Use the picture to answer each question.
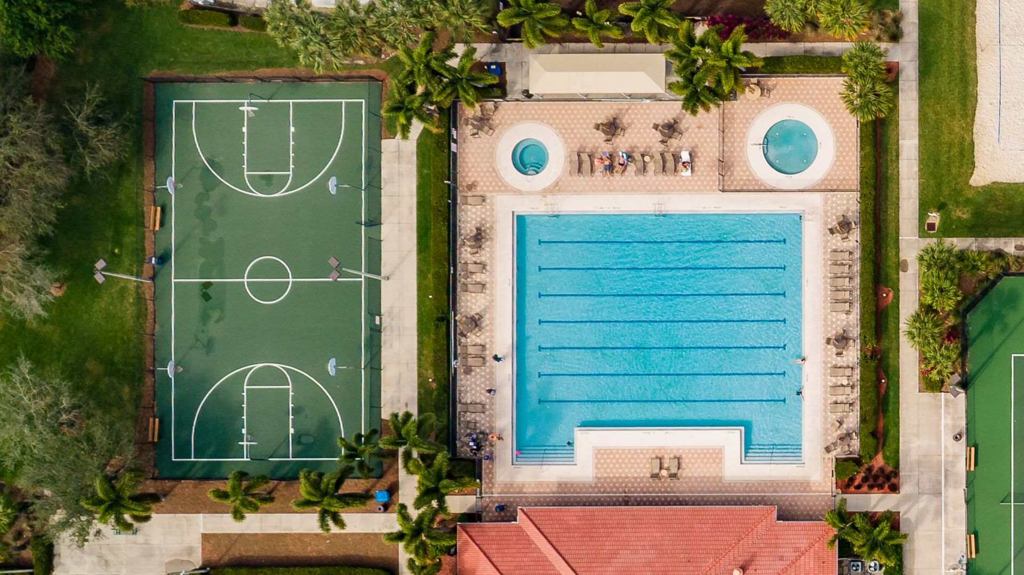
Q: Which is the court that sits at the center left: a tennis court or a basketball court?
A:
basketball court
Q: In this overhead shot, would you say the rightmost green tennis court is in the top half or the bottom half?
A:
bottom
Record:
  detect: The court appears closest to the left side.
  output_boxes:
[154,81,382,479]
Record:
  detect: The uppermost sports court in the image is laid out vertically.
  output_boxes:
[970,0,1024,186]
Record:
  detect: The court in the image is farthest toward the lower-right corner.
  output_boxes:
[968,277,1024,575]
